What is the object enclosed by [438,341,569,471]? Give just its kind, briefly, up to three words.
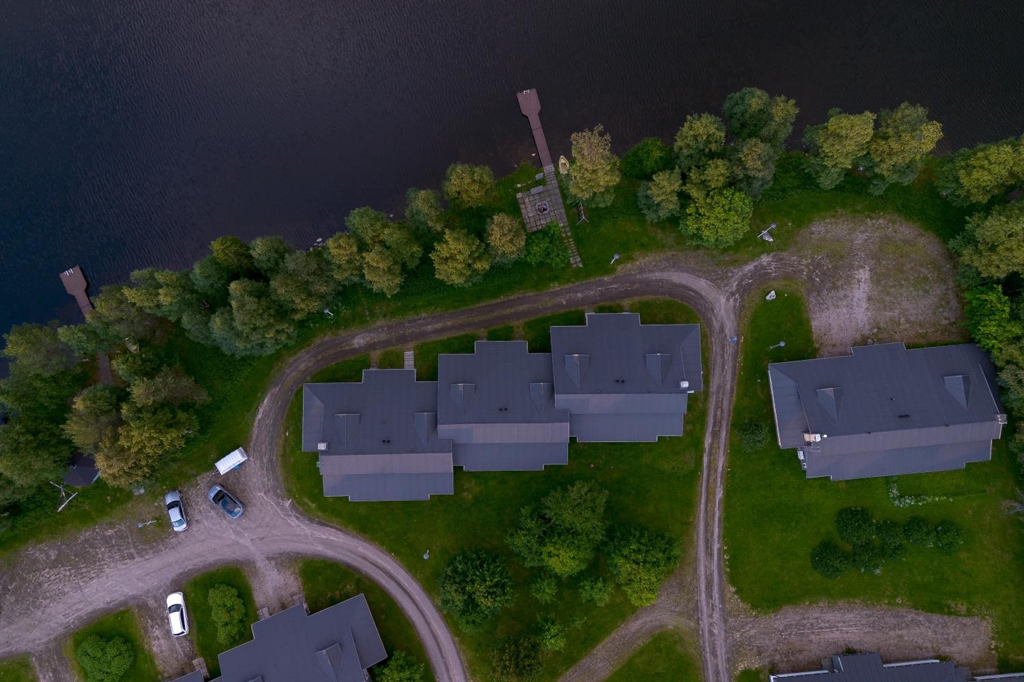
house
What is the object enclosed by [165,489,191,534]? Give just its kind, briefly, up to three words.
car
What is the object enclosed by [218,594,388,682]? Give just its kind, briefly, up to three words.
house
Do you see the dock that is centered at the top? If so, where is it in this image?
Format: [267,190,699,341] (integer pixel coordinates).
[517,85,552,168]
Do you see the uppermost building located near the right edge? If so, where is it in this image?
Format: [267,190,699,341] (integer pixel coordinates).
[769,342,1008,480]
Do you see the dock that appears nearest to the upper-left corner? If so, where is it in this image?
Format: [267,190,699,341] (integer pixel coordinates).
[59,265,102,328]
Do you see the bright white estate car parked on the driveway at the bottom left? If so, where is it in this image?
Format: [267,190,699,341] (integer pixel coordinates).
[164,589,193,640]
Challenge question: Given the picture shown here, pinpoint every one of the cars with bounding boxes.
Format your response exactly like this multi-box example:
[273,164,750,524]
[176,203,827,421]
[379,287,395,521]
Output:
[209,483,248,521]
[165,489,191,534]
[164,589,193,640]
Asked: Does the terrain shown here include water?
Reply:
Yes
